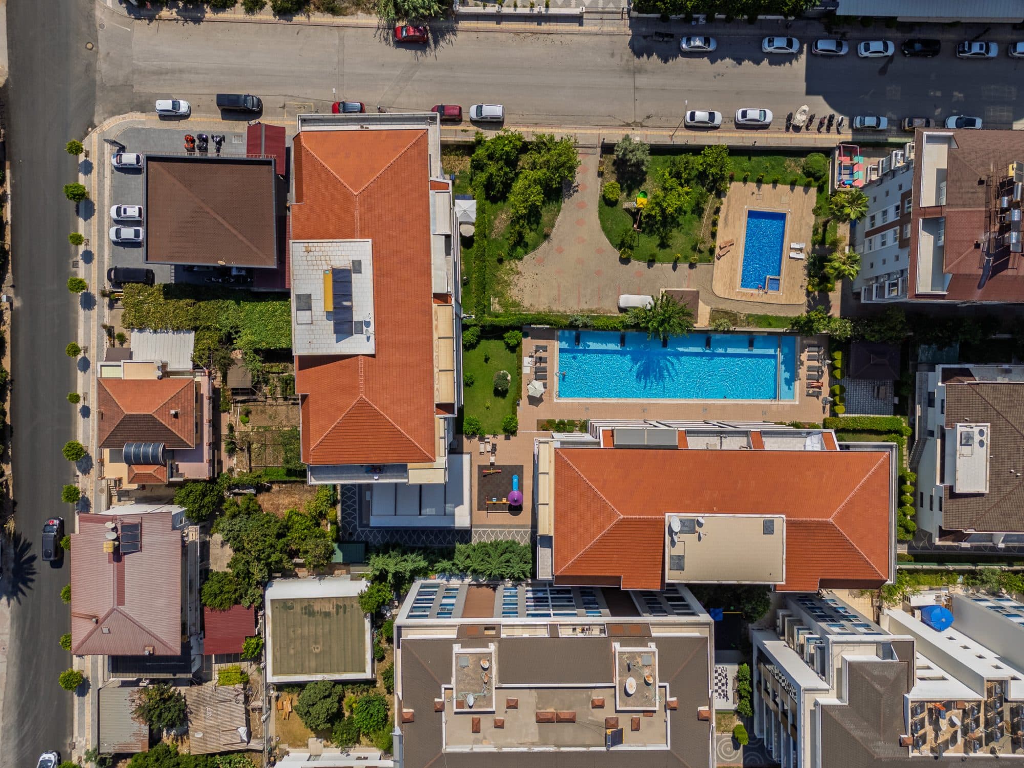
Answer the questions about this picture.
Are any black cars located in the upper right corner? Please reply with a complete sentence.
Yes, a black car shows up in the upper right corner.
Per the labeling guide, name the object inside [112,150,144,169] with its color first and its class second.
white car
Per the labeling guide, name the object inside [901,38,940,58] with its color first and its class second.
black car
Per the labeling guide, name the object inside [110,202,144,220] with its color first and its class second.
white car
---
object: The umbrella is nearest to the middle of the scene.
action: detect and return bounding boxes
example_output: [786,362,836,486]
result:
[527,378,546,397]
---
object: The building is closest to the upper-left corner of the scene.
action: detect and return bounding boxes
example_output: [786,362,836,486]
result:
[142,153,285,269]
